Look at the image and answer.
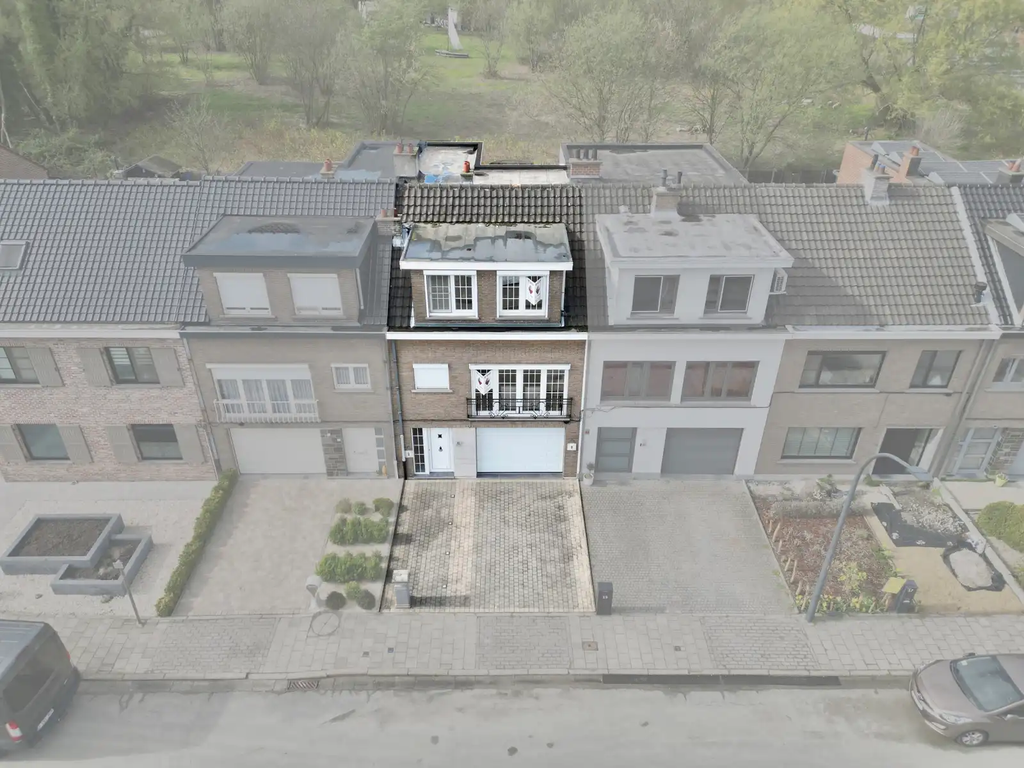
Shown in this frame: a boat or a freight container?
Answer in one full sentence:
I can see a boat in this picture.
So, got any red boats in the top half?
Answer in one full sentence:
No, I can find no red boat in the top half.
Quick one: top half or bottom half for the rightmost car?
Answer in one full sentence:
The bottom half of the photo is where the rightmost car is.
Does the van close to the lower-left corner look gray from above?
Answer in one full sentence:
Yes, the van close to the lower-left corner is gray.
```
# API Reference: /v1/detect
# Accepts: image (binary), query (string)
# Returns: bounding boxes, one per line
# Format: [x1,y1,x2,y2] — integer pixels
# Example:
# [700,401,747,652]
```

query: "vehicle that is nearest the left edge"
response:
[0,632,81,747]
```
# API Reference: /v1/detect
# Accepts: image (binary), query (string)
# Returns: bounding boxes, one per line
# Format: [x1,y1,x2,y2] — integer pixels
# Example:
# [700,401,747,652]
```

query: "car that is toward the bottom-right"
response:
[906,655,1024,748]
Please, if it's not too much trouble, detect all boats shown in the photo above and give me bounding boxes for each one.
[430,8,473,54]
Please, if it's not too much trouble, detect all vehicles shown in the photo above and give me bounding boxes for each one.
[0,632,81,747]
[906,655,1024,748]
